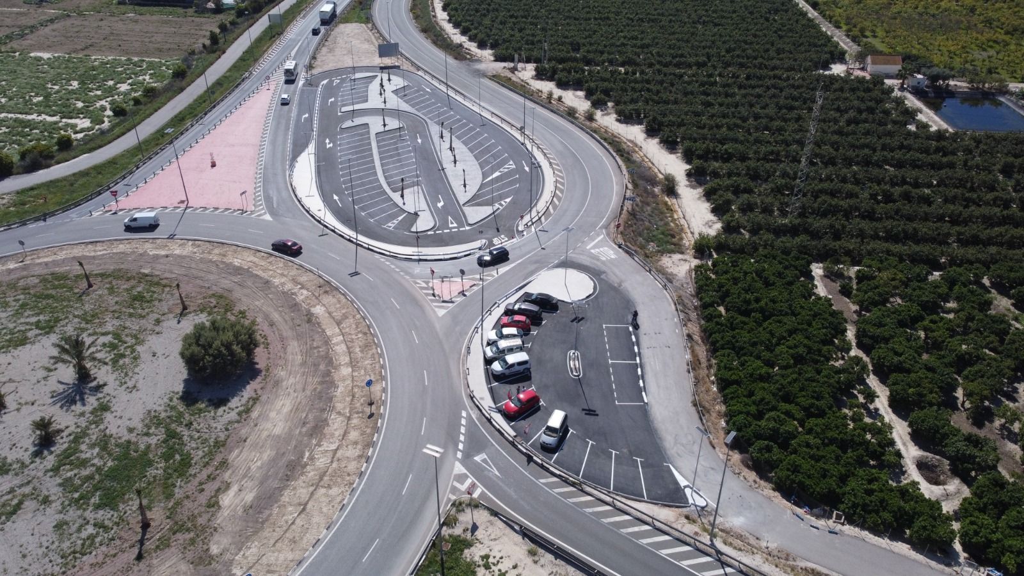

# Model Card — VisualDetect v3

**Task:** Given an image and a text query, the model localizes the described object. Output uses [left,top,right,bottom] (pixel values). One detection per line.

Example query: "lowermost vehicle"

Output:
[539,405,570,449]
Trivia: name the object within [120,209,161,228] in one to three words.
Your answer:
vehicle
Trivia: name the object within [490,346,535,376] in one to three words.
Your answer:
van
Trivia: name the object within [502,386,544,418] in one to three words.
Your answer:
car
